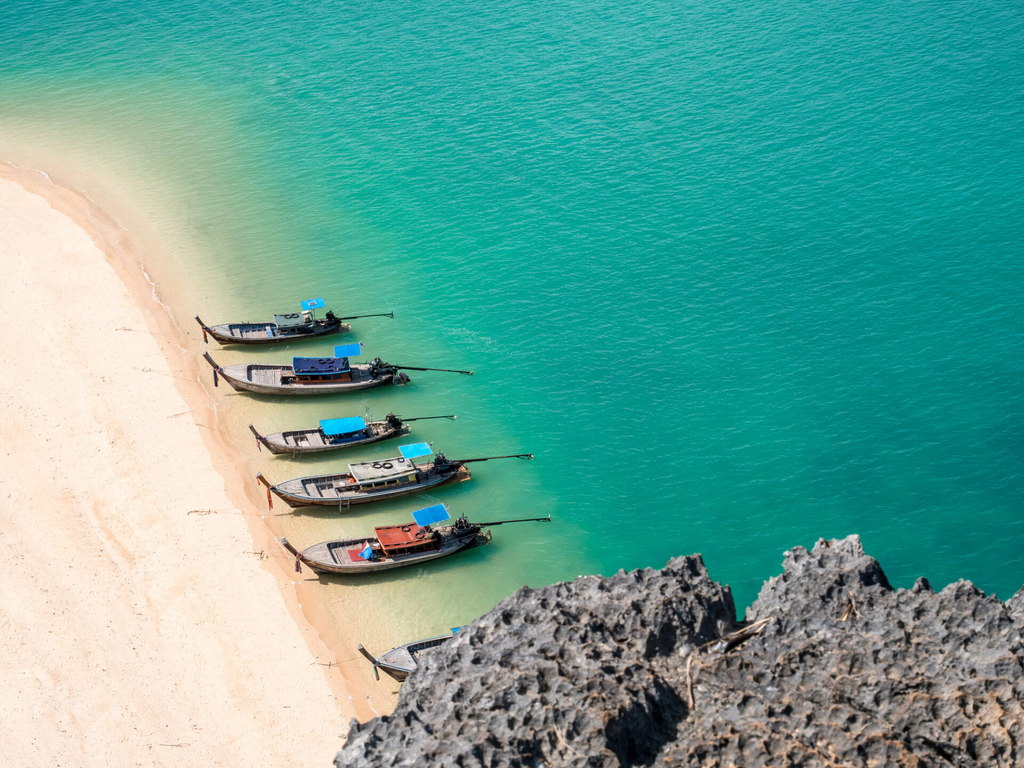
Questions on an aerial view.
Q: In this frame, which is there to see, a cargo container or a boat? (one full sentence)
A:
It is a boat that can be seen here.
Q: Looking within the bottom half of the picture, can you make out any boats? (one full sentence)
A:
Yes, a boat shows up within the bottom half of the picture.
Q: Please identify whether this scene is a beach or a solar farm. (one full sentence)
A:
This image shows a beach.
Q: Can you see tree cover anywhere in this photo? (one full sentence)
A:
No, there is no tree cover in the image.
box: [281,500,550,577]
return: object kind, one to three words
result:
boat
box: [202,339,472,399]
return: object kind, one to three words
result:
boat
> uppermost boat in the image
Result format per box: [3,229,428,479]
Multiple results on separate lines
[194,298,393,348]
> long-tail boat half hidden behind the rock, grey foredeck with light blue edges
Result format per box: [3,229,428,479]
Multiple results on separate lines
[358,622,480,682]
